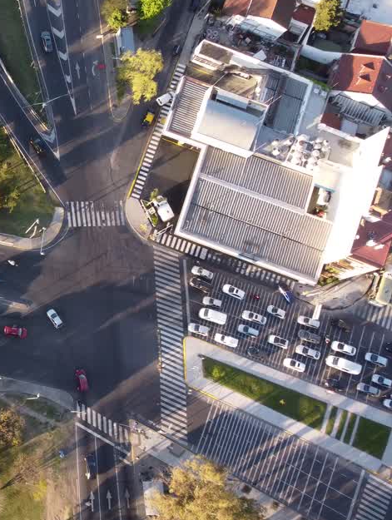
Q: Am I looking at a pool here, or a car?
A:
car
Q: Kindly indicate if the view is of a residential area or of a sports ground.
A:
residential area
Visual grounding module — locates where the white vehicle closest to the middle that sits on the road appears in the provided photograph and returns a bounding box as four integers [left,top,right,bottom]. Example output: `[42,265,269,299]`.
[190,264,215,280]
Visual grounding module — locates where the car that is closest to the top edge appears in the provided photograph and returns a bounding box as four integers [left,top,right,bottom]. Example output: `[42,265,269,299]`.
[188,0,202,16]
